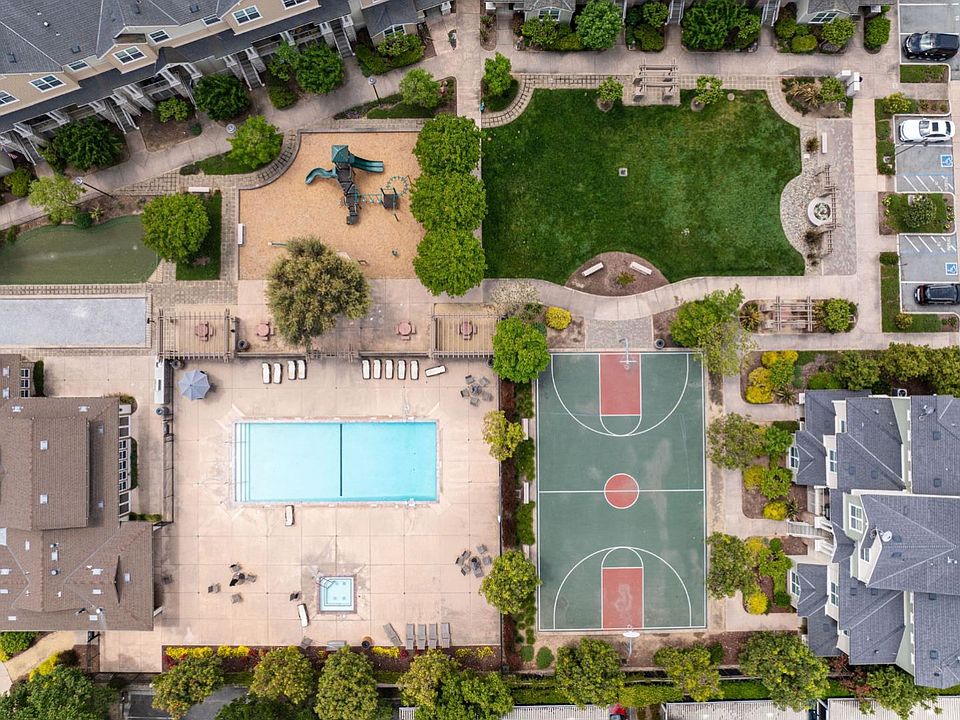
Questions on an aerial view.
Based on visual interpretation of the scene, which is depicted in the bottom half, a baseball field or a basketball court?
basketball court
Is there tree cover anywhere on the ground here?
Yes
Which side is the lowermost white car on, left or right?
right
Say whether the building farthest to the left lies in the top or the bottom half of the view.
bottom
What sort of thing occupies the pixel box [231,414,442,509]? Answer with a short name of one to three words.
swimming pool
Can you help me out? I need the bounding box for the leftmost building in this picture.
[0,354,166,629]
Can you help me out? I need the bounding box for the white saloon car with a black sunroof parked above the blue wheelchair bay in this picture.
[899,114,957,142]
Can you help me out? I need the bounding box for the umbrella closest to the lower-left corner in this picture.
[177,368,210,400]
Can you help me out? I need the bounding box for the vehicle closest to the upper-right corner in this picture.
[905,27,960,58]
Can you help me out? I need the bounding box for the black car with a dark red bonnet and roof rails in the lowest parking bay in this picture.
[918,279,960,305]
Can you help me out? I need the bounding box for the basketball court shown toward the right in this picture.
[533,348,711,633]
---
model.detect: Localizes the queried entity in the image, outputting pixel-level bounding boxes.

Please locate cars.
[899,114,957,142]
[918,279,960,305]
[610,704,632,720]
[905,27,960,58]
